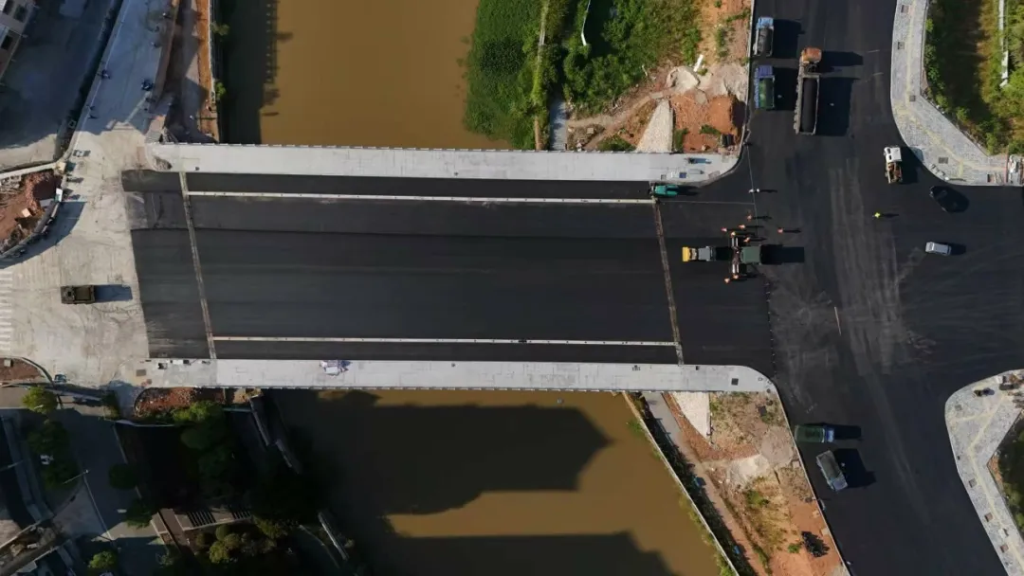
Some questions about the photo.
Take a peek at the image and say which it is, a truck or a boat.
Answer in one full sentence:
The one in the frame is a truck.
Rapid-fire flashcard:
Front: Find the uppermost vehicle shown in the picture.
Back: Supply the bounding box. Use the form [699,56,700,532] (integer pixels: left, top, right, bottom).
[754,16,773,56]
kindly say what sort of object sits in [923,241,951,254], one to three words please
vehicle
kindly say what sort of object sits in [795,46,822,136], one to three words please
truck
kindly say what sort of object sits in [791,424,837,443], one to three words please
vehicle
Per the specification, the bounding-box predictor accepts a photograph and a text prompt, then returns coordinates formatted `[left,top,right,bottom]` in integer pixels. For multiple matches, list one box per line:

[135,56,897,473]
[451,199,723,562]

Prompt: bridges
[142,142,777,394]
